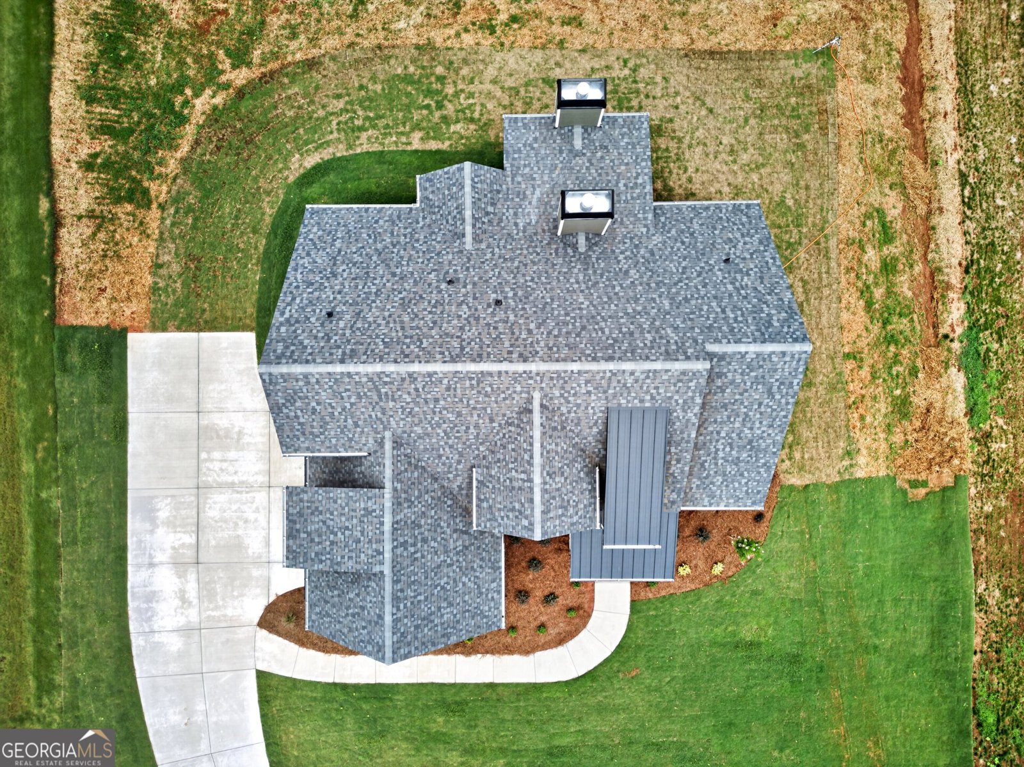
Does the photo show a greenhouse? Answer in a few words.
No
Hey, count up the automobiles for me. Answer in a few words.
0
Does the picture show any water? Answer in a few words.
No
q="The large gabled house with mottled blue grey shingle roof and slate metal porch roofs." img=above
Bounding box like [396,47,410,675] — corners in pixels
[257,78,810,665]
